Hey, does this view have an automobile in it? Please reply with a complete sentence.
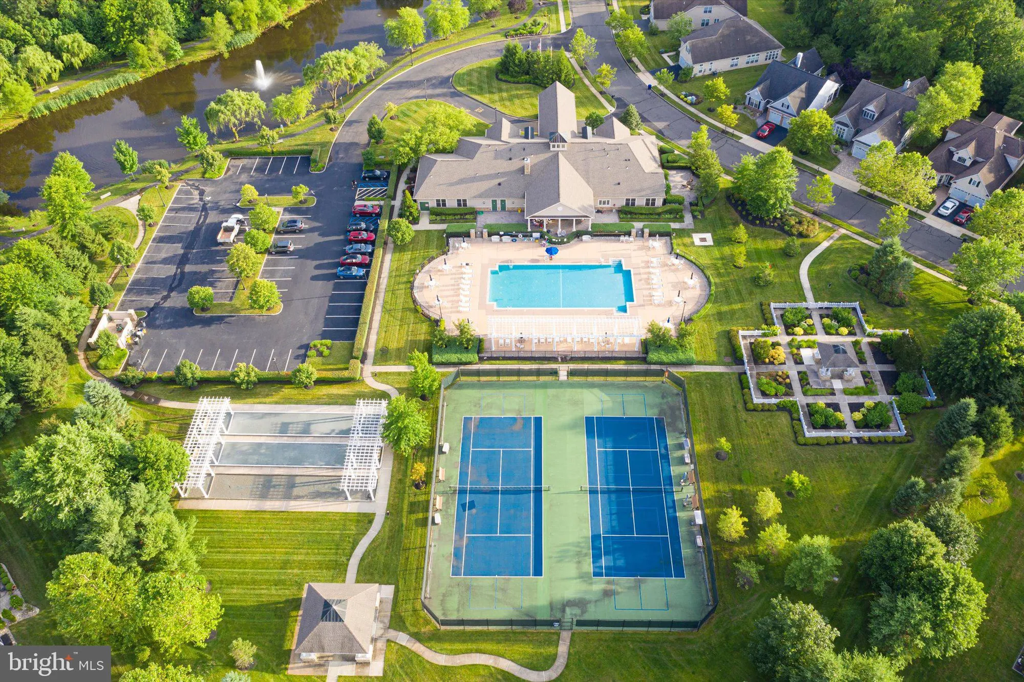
Yes, an automobile is visible in the scene.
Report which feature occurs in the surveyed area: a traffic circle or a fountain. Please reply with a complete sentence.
It is a fountain that can be seen here.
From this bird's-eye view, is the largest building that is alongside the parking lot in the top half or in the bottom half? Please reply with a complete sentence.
Seen from above, the largest building that is alongside the parking lot lies in the top half of the view.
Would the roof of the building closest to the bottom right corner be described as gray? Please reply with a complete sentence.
Yes, the roof of the building closest to the bottom right corner appears gray.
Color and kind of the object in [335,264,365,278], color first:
blue car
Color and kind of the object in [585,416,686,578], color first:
blue tennis court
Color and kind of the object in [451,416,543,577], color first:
blue tennis court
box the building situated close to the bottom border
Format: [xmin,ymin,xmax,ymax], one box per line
[294,582,379,655]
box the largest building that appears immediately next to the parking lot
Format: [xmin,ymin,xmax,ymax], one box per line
[414,80,667,231]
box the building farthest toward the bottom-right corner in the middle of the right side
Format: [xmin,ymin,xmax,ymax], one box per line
[815,341,861,370]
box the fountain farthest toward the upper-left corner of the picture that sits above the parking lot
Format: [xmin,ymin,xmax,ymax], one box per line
[251,59,276,91]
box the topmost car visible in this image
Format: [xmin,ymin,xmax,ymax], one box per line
[757,123,777,137]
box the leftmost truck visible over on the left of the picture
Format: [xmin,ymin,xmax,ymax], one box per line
[218,219,243,244]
